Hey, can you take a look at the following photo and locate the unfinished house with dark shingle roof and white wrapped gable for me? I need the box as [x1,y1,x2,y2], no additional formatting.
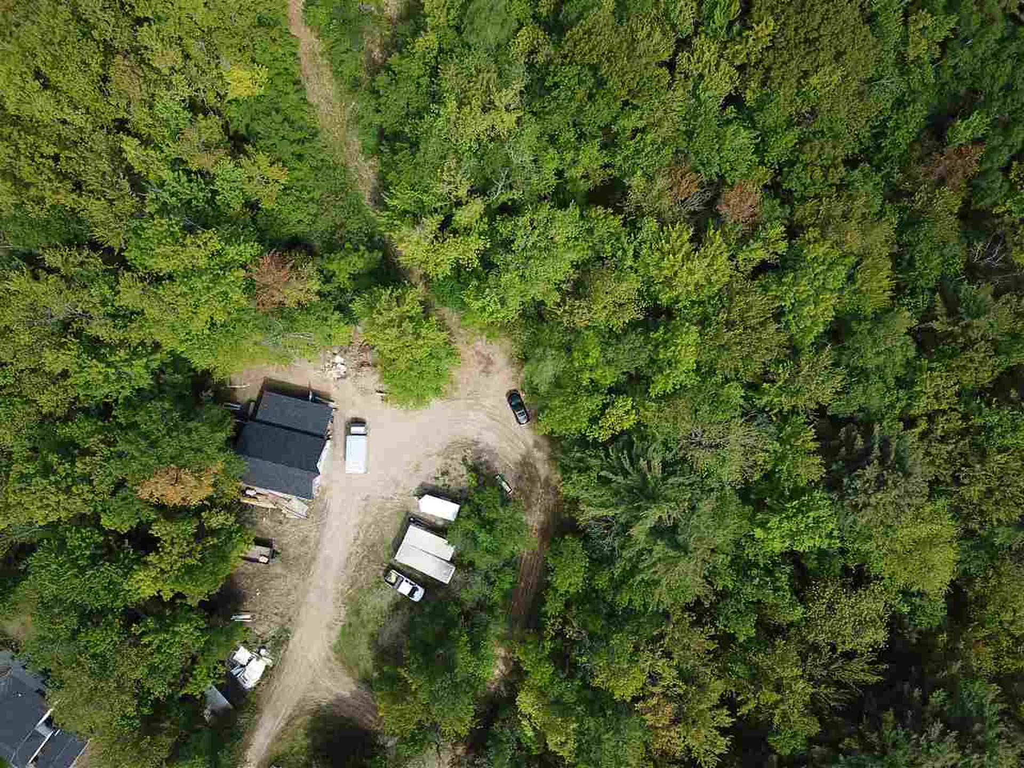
[229,394,337,499]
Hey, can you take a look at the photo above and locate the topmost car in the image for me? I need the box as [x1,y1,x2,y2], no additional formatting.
[506,389,531,427]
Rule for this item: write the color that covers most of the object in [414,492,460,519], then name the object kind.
white trailer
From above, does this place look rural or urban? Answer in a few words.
rural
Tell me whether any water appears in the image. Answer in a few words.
No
